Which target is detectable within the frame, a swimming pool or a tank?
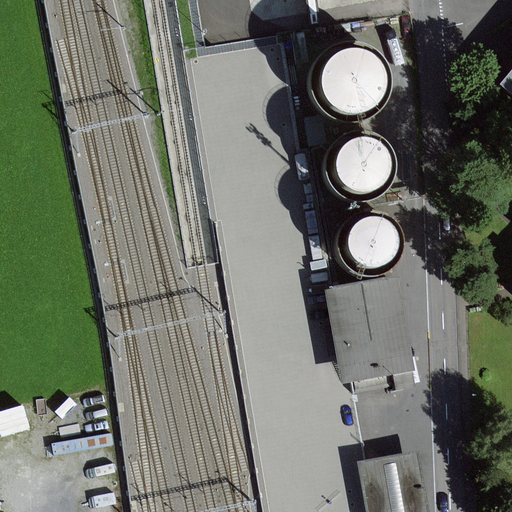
tank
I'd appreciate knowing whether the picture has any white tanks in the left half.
No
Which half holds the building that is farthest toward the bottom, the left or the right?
right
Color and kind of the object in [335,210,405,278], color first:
white storage tank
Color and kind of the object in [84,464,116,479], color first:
white camper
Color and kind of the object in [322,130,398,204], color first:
white storage tank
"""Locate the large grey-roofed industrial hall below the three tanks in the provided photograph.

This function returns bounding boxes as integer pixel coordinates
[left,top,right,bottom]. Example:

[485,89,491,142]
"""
[324,276,415,391]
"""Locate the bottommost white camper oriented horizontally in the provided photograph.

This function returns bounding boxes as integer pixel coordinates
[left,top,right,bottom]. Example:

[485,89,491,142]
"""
[81,492,117,508]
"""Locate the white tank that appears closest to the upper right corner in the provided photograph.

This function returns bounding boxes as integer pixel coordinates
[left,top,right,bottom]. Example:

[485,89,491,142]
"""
[308,42,393,126]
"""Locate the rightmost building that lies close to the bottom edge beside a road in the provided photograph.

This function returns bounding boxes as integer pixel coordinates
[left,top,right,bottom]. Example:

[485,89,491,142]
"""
[358,452,427,512]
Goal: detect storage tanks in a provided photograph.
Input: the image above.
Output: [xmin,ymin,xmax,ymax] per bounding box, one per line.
[322,130,398,204]
[335,210,405,278]
[308,42,393,126]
